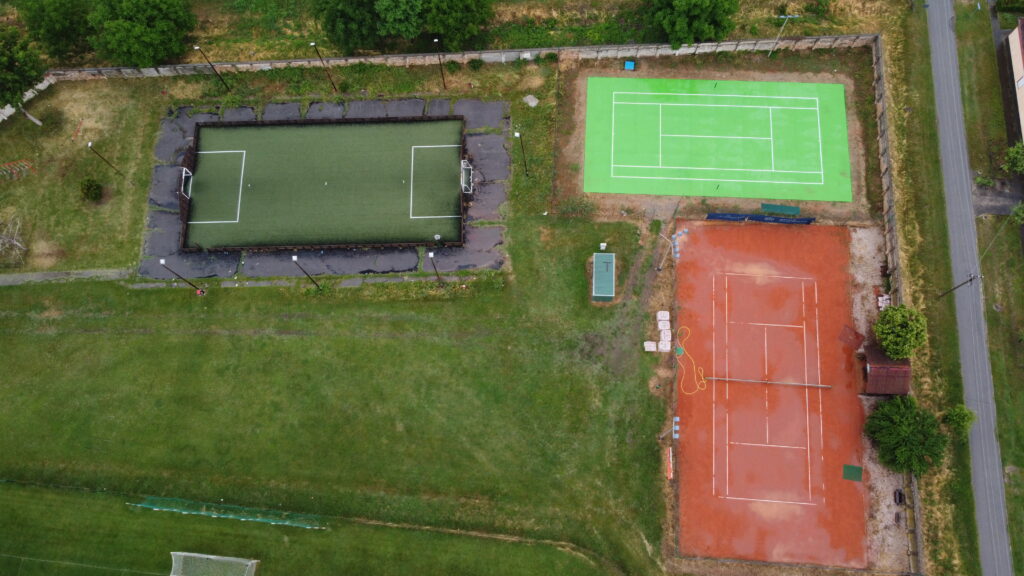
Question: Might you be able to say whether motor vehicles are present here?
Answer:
No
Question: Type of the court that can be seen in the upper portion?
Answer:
tennis court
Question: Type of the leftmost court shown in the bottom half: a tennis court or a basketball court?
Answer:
tennis court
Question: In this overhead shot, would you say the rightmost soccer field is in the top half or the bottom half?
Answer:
top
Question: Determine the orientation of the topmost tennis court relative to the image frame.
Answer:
horizontally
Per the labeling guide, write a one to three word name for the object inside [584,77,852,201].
tennis court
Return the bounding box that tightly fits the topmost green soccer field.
[183,121,464,249]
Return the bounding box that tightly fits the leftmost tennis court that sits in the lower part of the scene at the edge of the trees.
[676,222,867,568]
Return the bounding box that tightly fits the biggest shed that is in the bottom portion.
[863,346,912,394]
